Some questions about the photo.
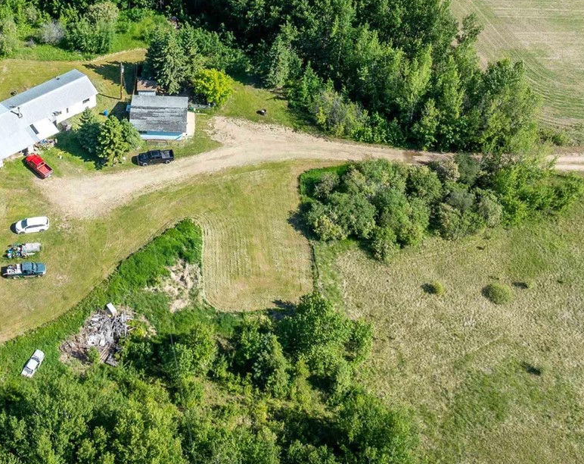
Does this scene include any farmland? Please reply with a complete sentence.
Yes, some farmland is visible.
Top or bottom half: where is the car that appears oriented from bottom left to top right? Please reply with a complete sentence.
It is in the bottom half that the car that appears oriented from bottom left to top right appears.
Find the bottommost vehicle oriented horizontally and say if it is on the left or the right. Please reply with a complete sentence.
It is on the left.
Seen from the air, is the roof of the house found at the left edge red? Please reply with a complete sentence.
No, the roof of the house found at the left edge is actually white.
